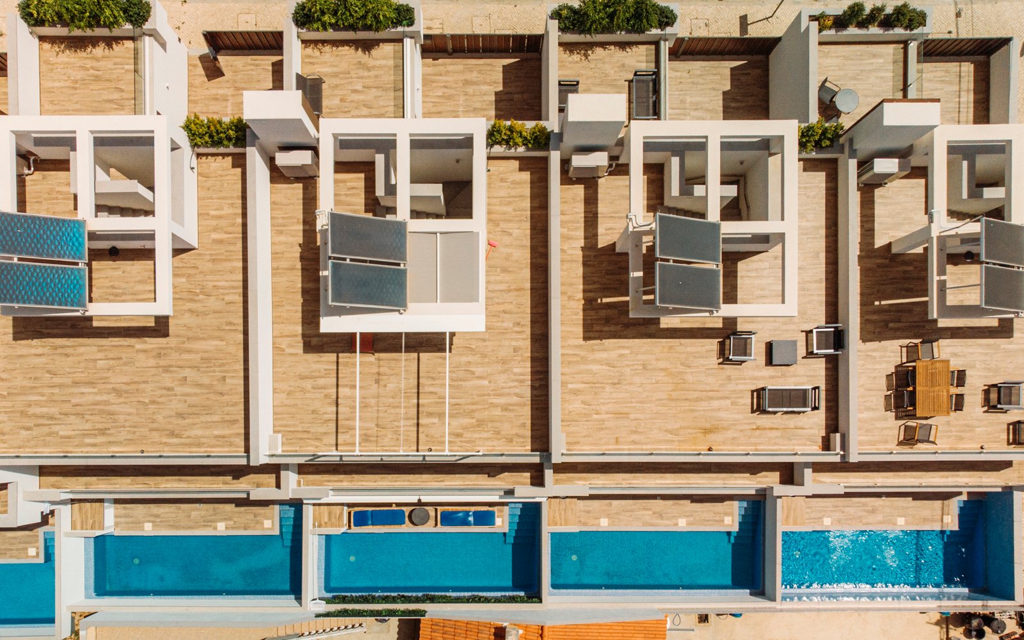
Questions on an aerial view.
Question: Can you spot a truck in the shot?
No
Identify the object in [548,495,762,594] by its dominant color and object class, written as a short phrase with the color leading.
blue swimming pool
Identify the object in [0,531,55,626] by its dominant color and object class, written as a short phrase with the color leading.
blue swimming pool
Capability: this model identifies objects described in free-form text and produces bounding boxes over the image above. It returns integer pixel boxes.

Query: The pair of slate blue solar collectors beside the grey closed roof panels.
[313,209,408,315]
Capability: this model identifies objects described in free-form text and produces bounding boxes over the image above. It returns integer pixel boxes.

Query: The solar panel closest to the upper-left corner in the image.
[0,212,88,315]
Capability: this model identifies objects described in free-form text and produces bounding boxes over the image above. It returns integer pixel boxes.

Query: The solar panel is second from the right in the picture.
[621,209,721,316]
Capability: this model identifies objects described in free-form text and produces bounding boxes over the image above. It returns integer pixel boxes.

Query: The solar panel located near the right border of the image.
[918,208,1024,319]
